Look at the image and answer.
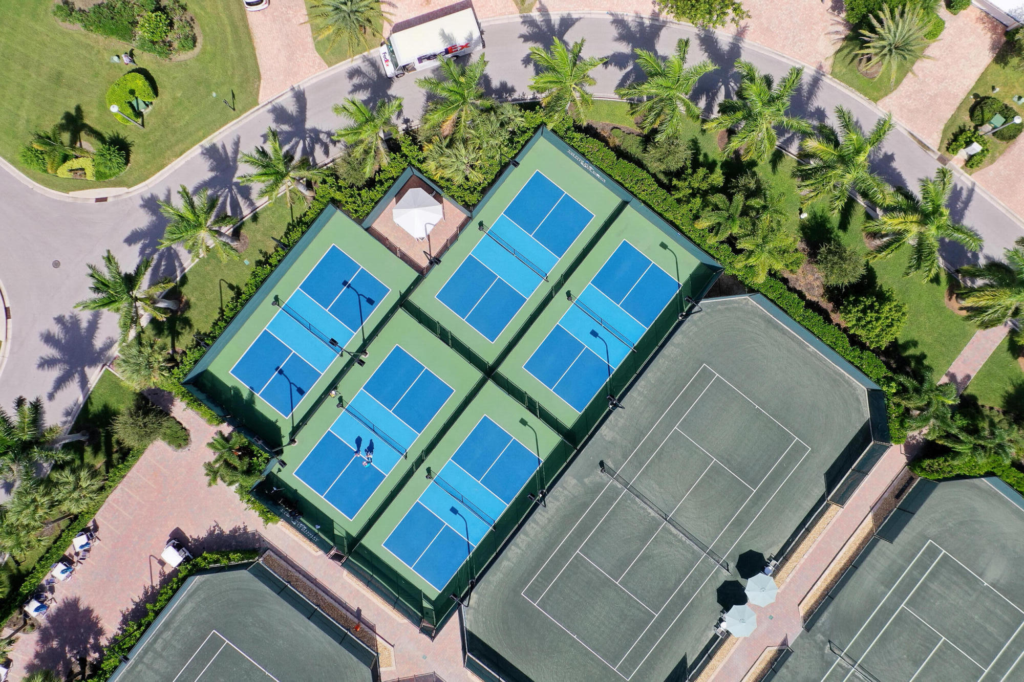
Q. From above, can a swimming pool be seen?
No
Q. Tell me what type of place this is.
sports ground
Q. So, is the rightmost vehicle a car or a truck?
truck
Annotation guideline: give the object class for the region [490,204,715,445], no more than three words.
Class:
sports court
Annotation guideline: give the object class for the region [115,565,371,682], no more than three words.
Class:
tennis court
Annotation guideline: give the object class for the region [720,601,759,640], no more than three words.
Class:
umbrella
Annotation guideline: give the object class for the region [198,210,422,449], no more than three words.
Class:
sports court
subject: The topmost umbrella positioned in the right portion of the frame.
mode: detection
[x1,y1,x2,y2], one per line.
[740,568,781,610]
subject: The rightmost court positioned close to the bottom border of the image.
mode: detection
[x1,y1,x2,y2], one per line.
[769,477,1024,682]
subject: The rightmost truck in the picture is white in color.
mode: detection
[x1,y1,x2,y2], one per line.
[379,10,483,77]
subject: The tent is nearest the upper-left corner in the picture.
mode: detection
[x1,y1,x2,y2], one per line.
[393,188,444,242]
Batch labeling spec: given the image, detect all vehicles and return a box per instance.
[379,10,483,77]
[158,539,192,571]
[244,0,268,12]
